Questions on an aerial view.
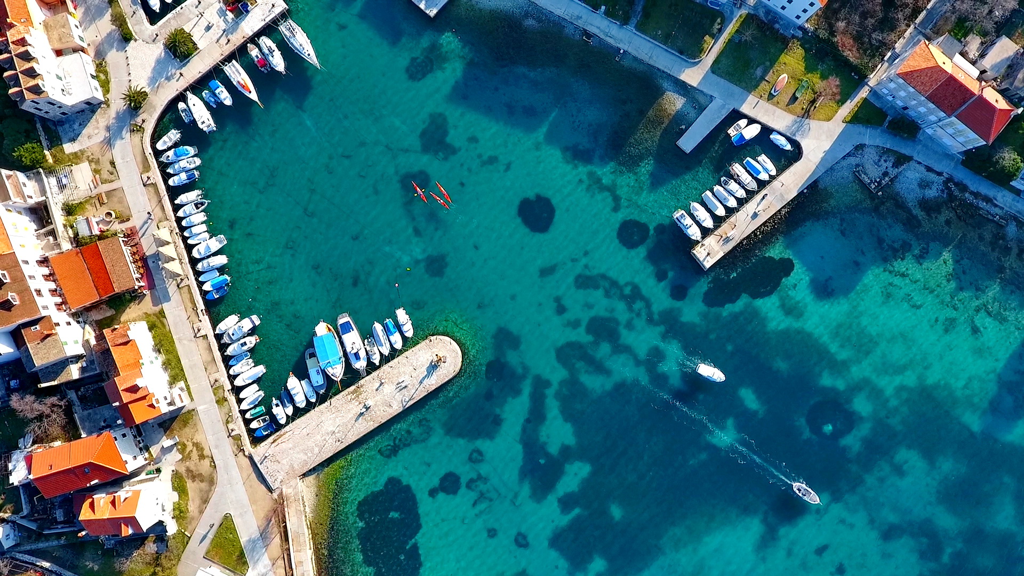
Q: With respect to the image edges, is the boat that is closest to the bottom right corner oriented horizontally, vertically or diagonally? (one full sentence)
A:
What the image shows is the boat that is closest to the bottom right corner lying diagonally.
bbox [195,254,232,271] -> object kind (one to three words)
boat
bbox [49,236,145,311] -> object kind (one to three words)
building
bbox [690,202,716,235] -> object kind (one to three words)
boat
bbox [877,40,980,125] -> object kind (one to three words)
house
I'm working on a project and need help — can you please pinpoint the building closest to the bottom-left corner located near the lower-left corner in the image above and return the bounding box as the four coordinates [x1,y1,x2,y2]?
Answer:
[0,515,30,551]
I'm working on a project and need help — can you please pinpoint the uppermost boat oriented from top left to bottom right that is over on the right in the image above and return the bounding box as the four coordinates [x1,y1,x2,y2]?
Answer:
[770,127,794,152]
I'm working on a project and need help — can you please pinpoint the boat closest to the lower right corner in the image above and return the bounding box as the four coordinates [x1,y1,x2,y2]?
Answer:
[792,481,821,504]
